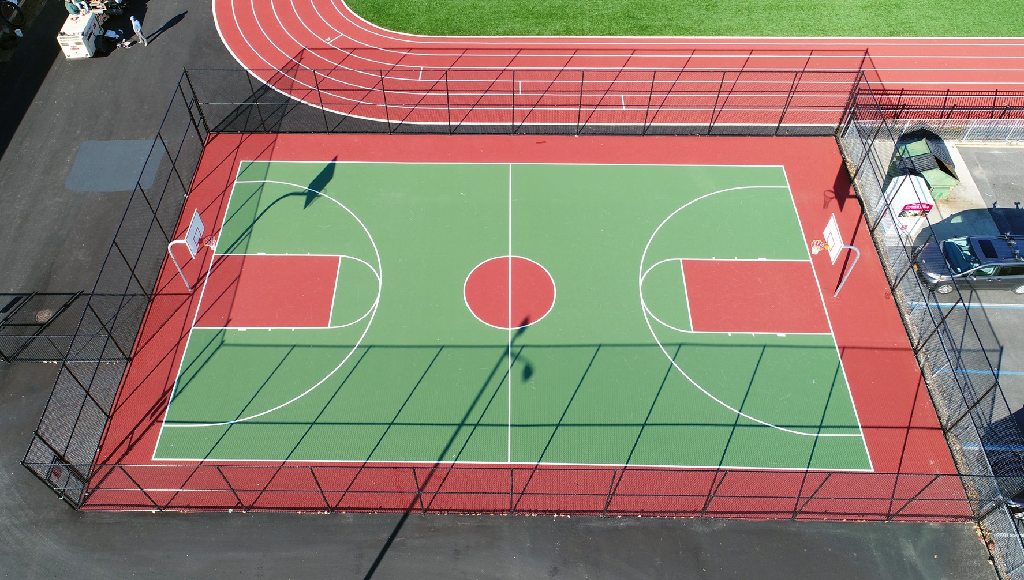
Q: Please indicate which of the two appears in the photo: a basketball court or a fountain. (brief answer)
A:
basketball court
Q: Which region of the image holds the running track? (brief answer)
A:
top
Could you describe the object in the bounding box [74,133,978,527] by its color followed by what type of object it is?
green basketball court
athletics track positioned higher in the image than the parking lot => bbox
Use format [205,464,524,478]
[211,0,1024,127]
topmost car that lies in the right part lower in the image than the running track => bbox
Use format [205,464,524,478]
[912,234,1024,295]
